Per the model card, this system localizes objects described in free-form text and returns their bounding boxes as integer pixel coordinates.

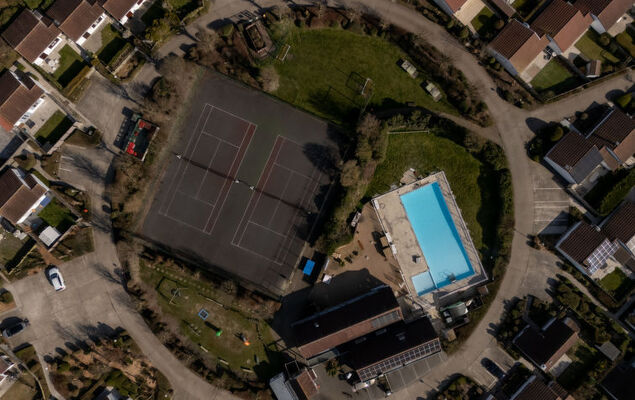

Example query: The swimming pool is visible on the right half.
[372,172,487,307]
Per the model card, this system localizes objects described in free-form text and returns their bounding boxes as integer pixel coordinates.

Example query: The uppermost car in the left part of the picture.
[50,267,65,291]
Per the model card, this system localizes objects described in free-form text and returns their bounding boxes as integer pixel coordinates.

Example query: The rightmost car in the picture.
[484,360,507,381]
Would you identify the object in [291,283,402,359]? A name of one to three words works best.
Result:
building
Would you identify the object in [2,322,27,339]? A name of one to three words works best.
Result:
car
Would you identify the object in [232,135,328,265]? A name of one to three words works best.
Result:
tennis court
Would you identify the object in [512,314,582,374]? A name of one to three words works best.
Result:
house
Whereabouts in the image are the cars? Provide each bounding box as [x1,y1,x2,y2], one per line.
[2,322,27,339]
[50,267,65,291]
[484,360,507,381]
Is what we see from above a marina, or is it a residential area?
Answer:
residential area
